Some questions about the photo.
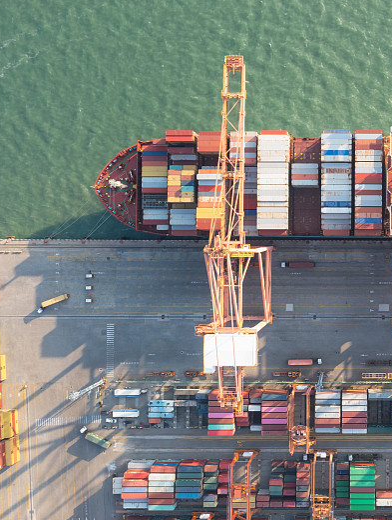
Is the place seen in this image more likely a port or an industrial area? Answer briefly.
port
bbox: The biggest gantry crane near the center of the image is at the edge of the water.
[191,55,283,422]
